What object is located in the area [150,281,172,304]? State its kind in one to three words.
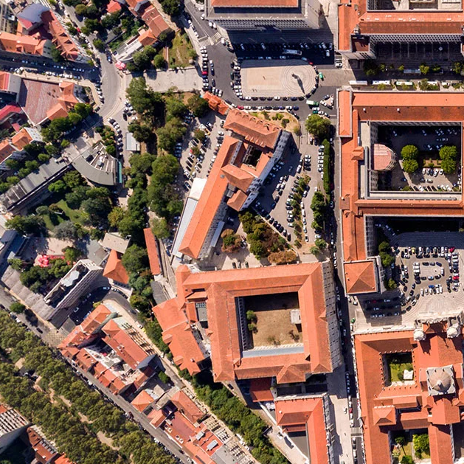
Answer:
house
